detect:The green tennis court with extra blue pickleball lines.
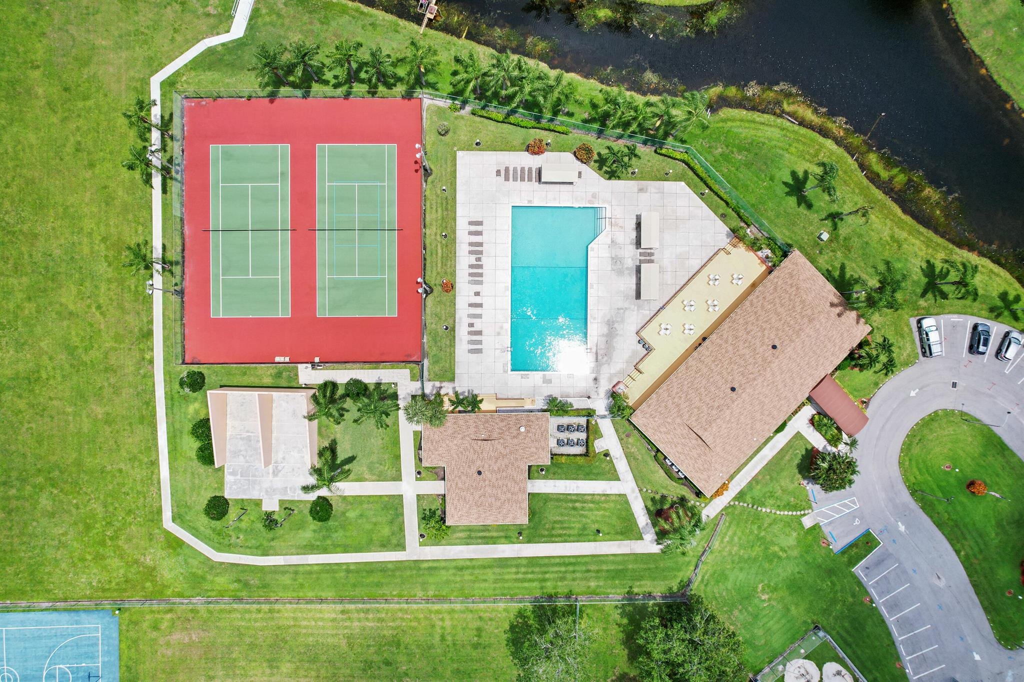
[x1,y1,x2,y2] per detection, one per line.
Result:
[316,144,397,316]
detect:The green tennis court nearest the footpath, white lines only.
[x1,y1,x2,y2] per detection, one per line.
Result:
[210,144,290,317]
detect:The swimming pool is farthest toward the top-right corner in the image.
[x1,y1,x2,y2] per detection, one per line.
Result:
[509,204,611,373]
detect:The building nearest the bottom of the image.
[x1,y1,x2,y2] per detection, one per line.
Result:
[421,412,550,525]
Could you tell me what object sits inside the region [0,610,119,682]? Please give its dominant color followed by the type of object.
blue basketball court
